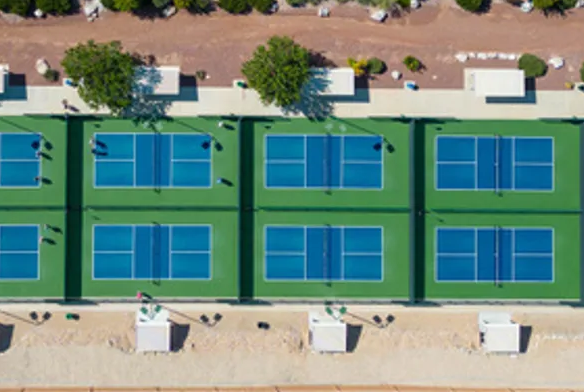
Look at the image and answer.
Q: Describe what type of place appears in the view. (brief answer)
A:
sports ground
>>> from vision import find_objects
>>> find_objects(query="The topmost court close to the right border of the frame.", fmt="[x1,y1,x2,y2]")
[414,118,581,211]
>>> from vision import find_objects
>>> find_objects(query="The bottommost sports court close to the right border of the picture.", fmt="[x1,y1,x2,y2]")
[414,211,581,300]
